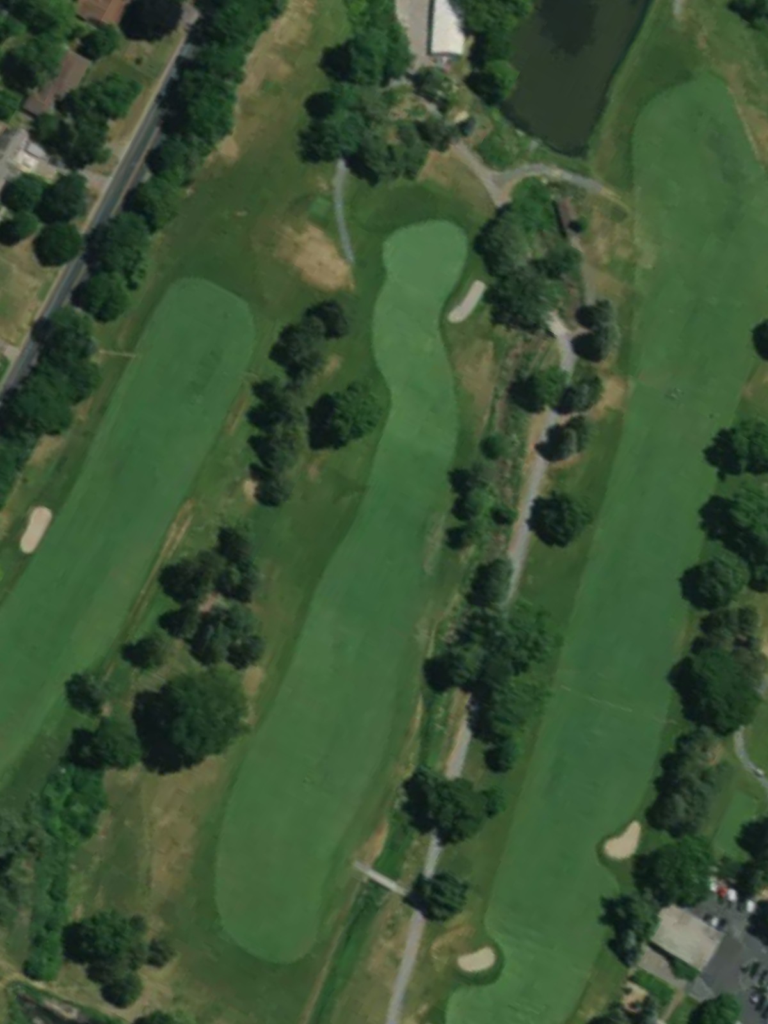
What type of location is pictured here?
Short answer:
golf course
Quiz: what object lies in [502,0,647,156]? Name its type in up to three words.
pond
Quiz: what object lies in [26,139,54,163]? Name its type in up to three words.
house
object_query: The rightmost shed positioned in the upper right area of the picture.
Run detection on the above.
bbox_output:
[559,197,580,231]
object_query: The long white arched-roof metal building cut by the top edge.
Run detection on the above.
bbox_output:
[431,0,465,56]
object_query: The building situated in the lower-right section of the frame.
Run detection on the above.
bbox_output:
[652,904,724,971]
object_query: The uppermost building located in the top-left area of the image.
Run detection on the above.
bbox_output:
[77,0,129,28]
